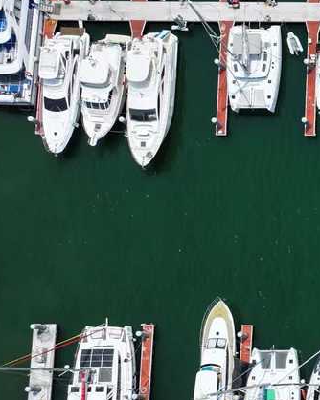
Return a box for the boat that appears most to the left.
[0,0,43,104]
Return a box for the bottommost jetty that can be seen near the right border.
[304,21,320,136]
